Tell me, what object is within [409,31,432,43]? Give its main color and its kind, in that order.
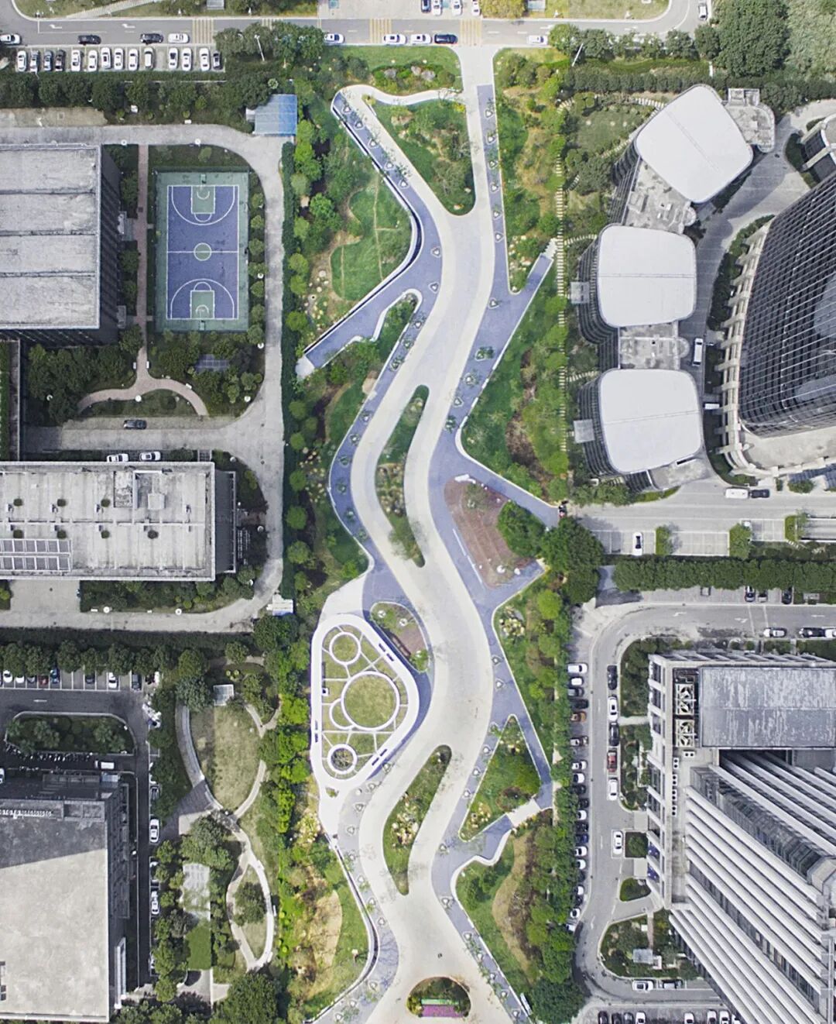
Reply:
white vehicle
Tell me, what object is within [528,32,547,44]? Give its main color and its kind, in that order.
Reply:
white vehicle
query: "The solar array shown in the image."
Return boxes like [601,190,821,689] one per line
[0,539,69,571]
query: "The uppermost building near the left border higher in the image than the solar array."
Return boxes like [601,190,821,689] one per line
[0,144,125,343]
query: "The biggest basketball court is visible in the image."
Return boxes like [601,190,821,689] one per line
[156,172,247,330]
